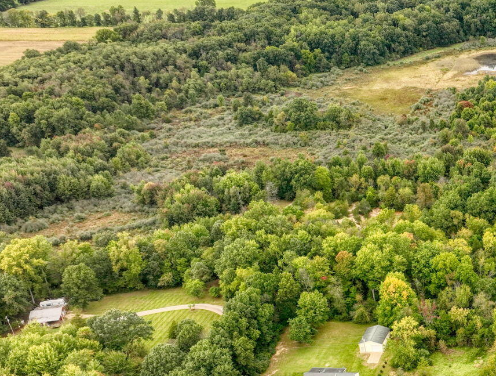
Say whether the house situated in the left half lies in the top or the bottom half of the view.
bottom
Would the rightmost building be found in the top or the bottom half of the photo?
bottom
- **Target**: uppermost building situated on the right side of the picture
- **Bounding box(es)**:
[358,321,387,354]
